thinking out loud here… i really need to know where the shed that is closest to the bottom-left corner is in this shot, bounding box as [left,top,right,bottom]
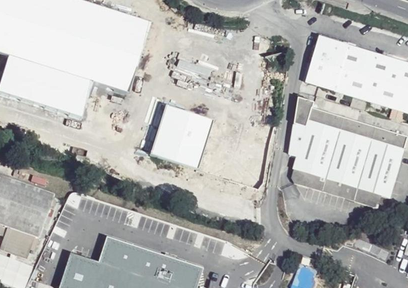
[0,256,33,288]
